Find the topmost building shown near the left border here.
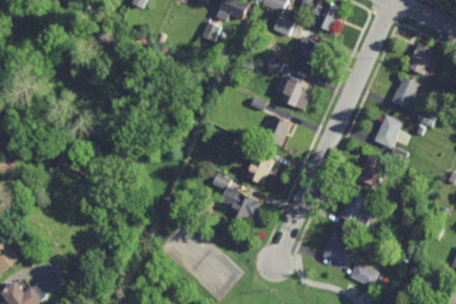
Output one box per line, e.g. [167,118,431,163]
[0,240,18,277]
